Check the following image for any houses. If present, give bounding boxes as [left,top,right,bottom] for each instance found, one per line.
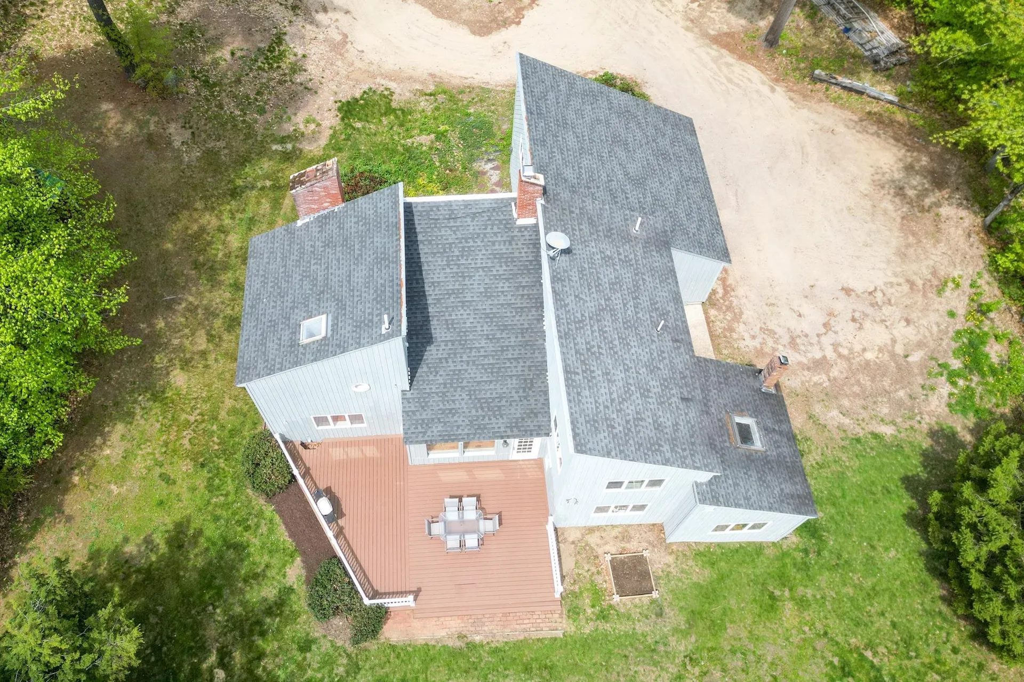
[234,51,818,547]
